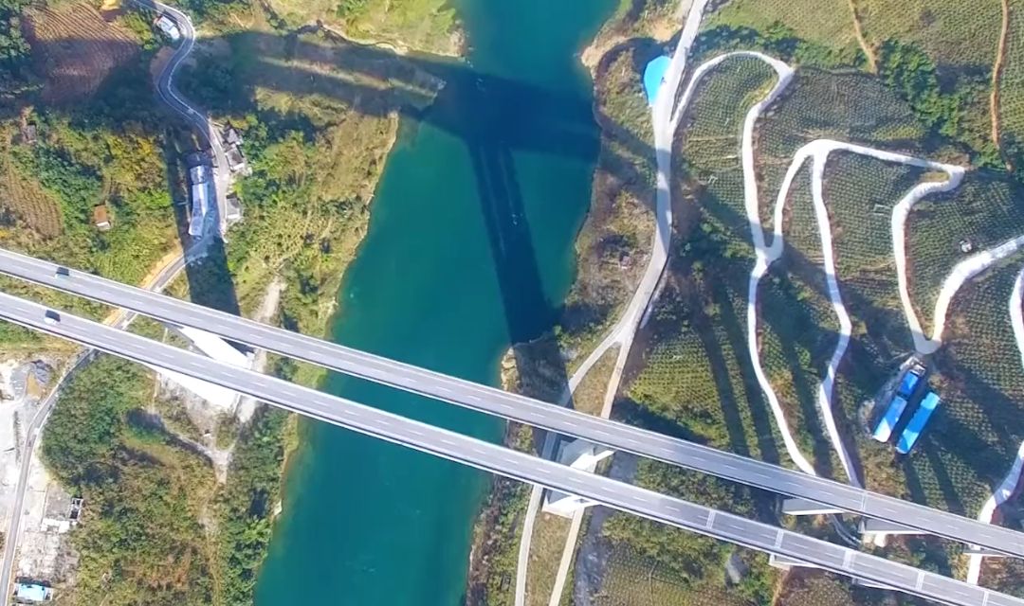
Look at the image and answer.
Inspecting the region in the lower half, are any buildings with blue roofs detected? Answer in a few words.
Yes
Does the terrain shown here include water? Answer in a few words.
Yes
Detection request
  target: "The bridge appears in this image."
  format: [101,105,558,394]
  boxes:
[0,250,1024,561]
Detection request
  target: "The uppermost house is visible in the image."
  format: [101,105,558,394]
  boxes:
[157,21,186,41]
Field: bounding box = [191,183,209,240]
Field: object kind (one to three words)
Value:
shed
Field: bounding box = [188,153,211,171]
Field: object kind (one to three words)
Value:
house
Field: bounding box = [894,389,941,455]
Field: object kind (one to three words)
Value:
building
